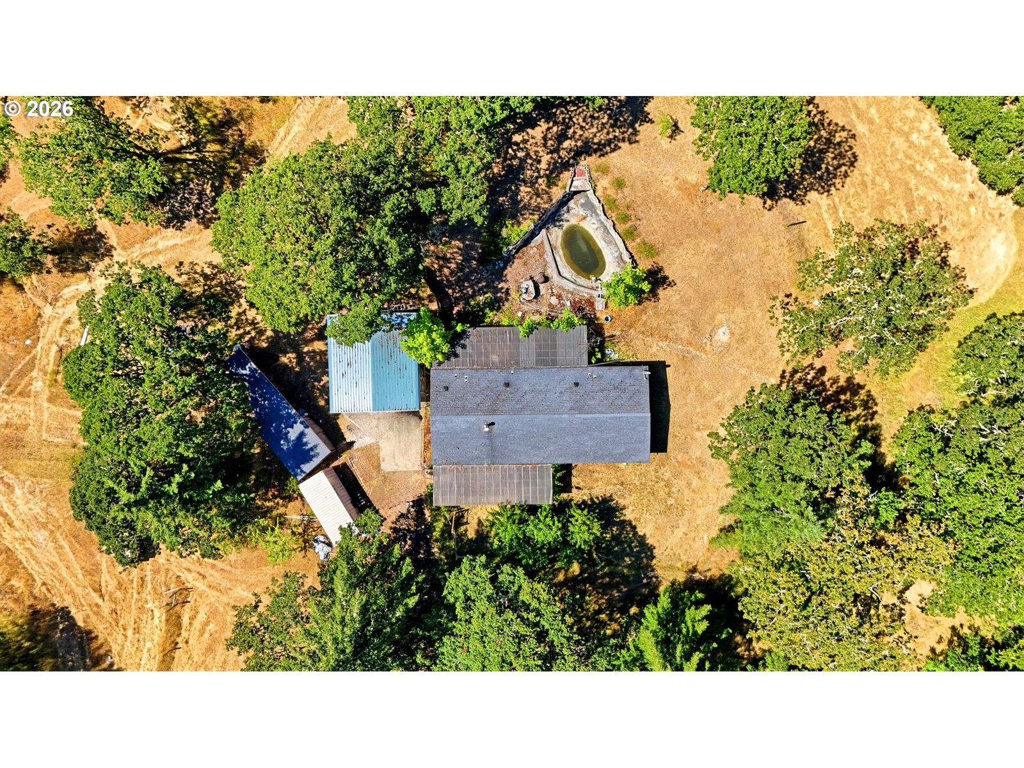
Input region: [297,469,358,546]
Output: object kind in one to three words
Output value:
shed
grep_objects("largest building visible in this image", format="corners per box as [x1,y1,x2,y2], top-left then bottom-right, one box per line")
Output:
[430,364,652,466]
